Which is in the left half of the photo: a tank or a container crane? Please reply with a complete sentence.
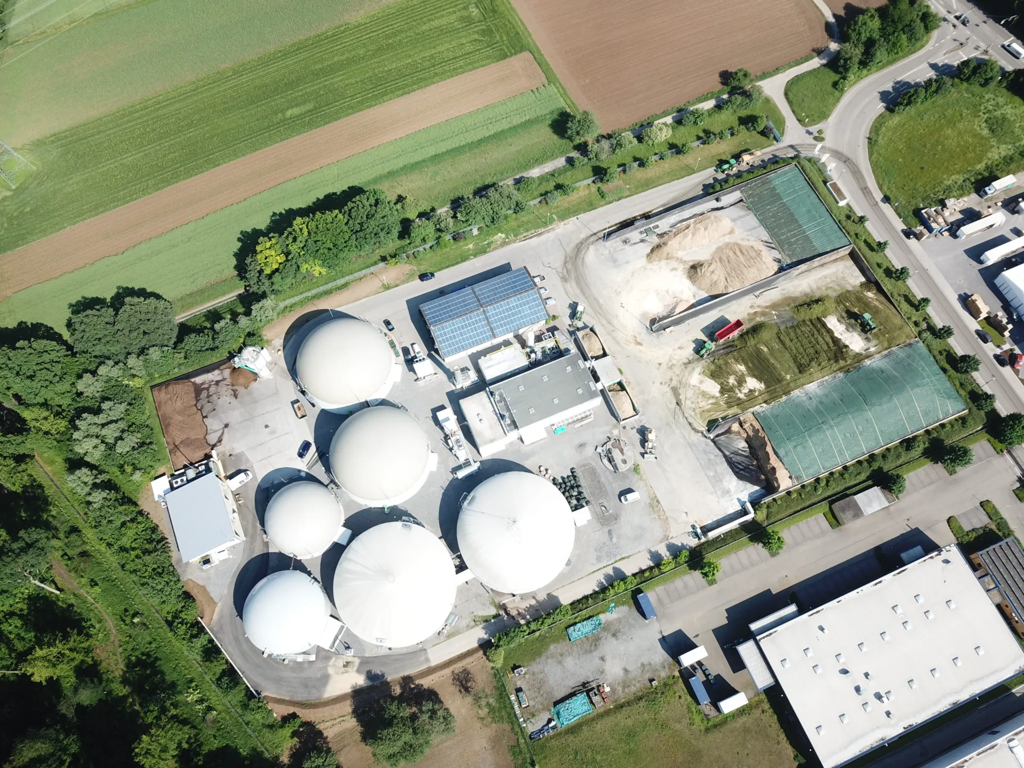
There is a tank in the left half of the photo.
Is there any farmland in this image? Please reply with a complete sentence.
Yes, farmland shows up in the scene.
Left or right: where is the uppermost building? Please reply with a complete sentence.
The uppermost building appears in the right half of the scene.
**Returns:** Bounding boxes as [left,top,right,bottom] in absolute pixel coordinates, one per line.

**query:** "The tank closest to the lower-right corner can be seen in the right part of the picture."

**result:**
[596,436,633,471]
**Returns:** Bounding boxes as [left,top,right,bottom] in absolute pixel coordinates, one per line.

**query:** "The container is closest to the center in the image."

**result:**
[436,408,475,466]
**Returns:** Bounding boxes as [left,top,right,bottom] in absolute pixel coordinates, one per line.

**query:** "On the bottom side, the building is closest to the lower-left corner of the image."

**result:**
[165,472,245,565]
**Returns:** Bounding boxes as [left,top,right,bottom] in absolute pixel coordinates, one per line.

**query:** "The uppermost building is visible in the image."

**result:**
[824,180,849,207]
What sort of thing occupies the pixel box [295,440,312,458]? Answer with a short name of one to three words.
car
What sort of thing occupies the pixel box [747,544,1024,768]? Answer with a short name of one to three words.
building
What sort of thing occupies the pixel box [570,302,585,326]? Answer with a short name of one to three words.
work vehicle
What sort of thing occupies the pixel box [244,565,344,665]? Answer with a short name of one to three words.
storage tank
